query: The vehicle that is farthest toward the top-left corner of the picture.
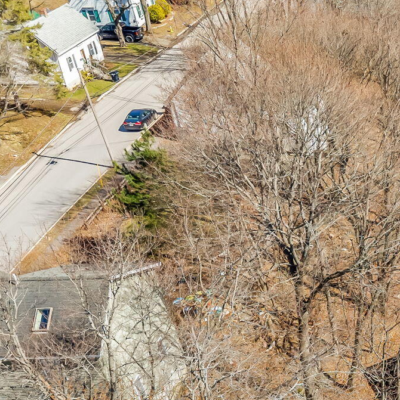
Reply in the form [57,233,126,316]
[101,24,147,41]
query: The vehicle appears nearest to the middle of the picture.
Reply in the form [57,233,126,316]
[124,107,162,130]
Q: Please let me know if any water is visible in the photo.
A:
No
